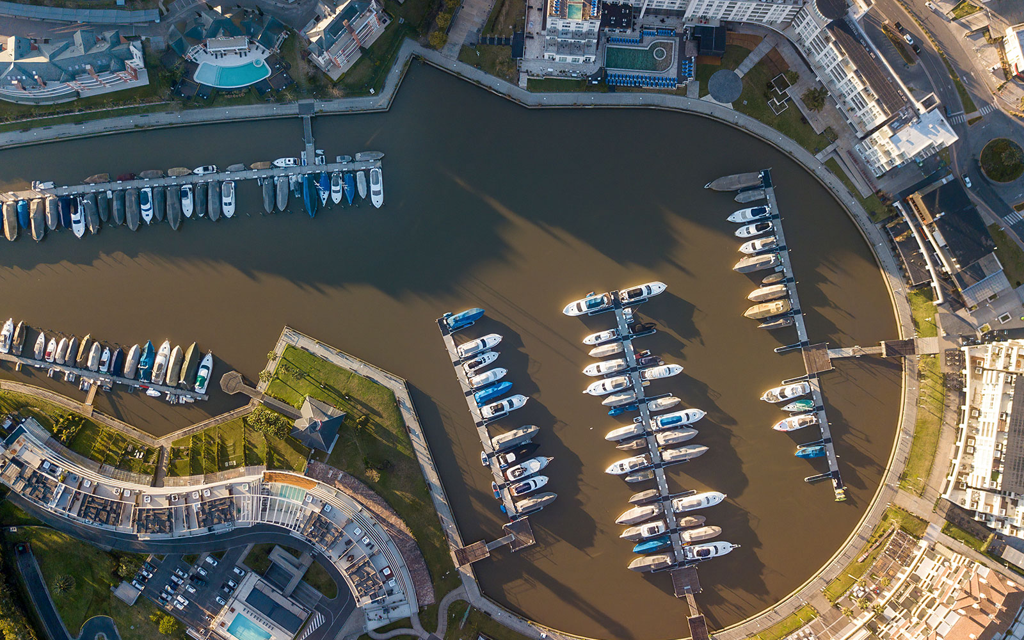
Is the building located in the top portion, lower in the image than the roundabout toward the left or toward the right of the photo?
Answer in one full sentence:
It is on the right.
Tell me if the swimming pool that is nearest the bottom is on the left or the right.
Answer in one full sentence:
You can find the swimming pool that is nearest the bottom on the left side of the picture.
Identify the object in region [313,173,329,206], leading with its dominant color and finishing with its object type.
blue boat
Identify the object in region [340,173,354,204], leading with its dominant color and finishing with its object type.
blue boat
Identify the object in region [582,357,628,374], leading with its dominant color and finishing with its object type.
white boat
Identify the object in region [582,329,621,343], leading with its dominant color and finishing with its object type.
white boat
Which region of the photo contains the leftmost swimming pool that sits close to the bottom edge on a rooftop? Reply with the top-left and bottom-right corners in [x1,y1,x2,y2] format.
[221,611,275,640]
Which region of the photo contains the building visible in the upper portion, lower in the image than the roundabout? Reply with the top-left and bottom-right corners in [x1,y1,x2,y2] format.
[886,178,1011,308]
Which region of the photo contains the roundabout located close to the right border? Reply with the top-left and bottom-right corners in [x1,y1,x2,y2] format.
[980,138,1024,181]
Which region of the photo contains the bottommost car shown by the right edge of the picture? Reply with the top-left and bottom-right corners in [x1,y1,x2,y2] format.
[962,173,974,188]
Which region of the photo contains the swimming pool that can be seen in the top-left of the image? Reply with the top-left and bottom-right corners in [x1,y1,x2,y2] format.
[193,56,274,90]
